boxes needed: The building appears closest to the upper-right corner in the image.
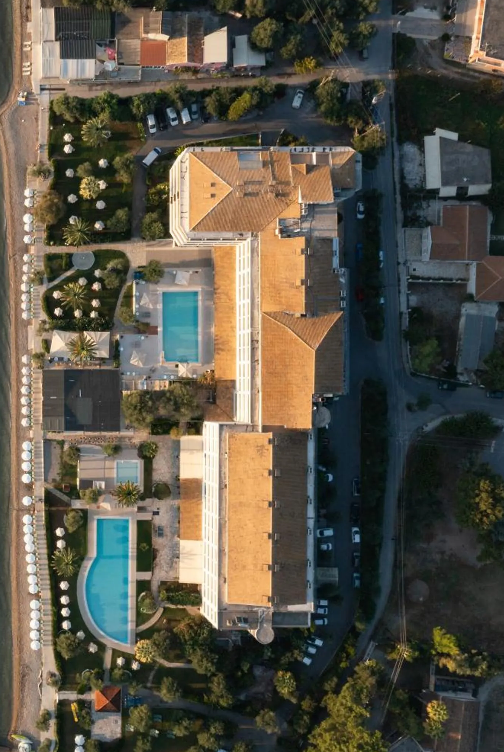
[462,0,504,69]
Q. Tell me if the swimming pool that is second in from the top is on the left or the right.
left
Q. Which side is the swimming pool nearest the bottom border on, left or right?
left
